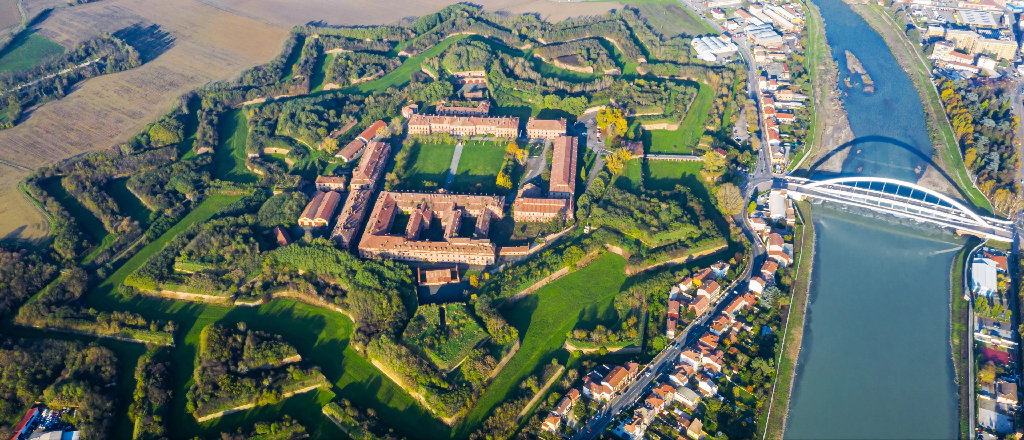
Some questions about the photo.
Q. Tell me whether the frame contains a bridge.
Yes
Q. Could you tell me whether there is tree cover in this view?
Yes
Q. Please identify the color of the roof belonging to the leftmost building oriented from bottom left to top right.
red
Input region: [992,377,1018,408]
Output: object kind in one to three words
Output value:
house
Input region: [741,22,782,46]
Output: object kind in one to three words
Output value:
building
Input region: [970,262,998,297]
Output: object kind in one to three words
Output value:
building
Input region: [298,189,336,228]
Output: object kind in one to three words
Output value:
shed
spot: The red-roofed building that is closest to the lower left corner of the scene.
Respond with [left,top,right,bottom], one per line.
[11,406,40,440]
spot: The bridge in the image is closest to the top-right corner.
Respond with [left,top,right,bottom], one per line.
[772,171,1013,242]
